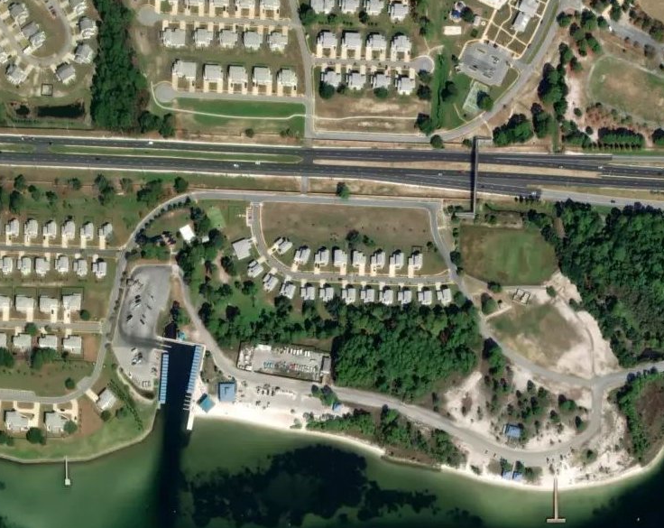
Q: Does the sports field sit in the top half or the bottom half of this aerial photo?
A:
top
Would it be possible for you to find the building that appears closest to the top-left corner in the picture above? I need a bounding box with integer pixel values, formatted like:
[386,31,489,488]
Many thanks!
[7,0,33,23]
